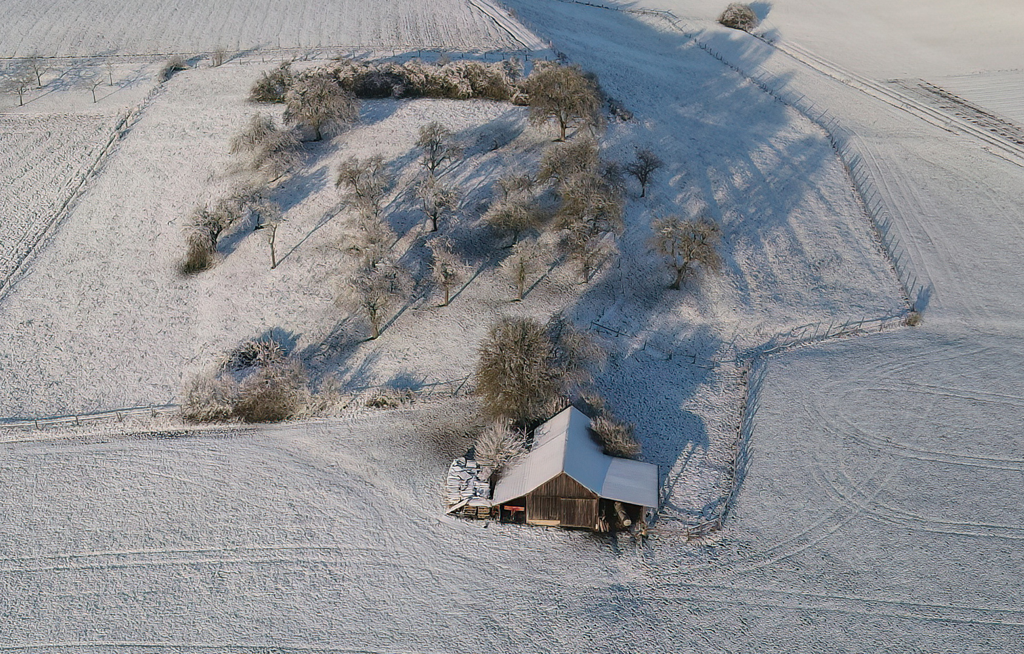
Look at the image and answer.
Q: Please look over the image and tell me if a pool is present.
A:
No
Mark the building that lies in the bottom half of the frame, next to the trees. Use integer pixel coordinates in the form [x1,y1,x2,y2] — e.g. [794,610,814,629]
[492,402,663,533]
